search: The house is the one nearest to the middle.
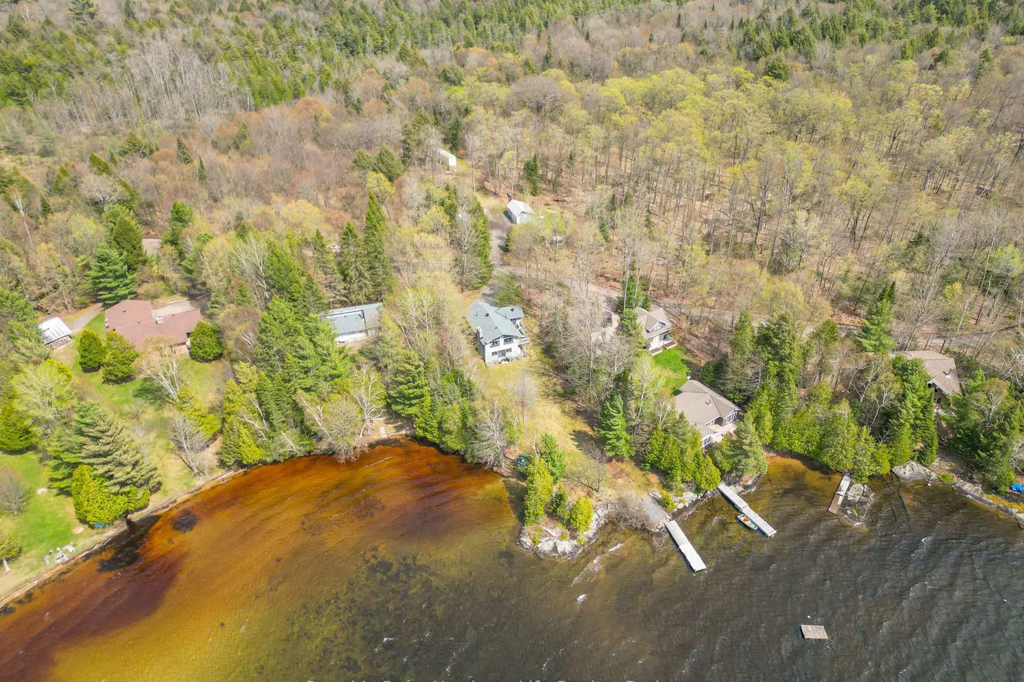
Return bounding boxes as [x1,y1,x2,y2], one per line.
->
[457,301,532,366]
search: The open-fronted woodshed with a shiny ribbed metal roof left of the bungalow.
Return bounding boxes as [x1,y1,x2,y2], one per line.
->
[40,322,75,354]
